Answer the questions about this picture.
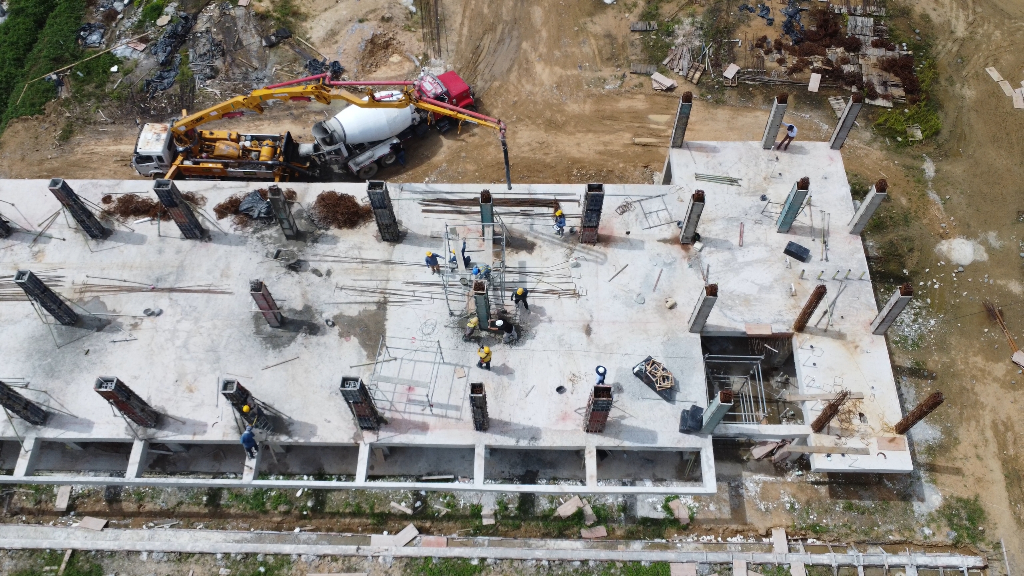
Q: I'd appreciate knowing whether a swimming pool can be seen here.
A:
No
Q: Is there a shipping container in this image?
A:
No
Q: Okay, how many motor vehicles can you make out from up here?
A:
two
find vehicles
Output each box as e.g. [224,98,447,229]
[123,72,513,190]
[296,66,483,182]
